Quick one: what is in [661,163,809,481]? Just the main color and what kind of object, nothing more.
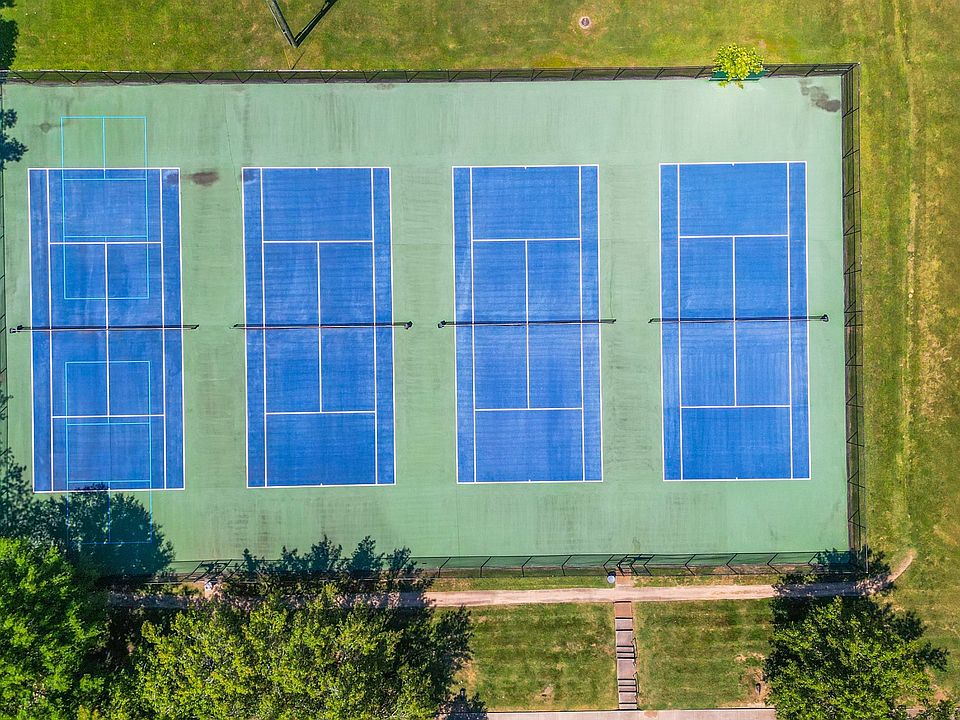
blue tennis court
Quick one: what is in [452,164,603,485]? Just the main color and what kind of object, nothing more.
blue tennis court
